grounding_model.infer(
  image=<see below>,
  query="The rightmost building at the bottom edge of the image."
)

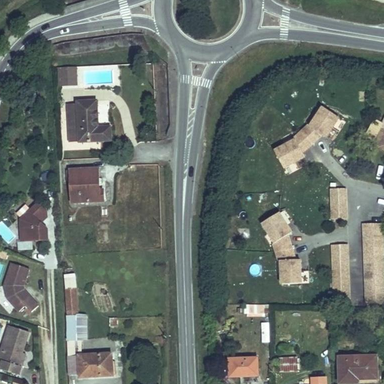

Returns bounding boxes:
[336,354,380,384]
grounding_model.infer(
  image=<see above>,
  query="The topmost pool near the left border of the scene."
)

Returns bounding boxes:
[0,221,16,244]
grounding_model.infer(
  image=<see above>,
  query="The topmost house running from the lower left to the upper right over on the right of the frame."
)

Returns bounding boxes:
[273,105,340,170]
